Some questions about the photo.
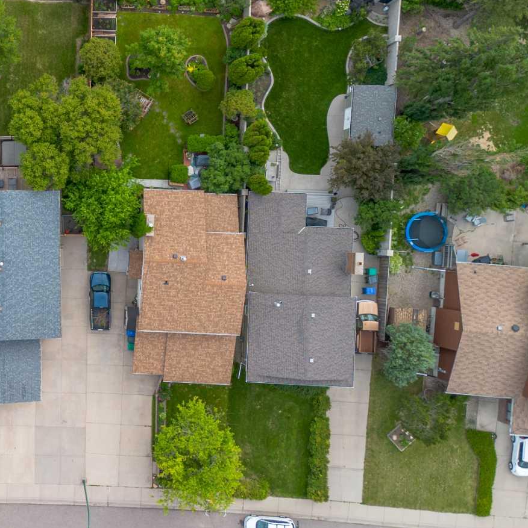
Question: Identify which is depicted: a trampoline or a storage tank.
trampoline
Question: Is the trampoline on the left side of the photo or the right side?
right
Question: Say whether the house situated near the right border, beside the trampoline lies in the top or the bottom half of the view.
bottom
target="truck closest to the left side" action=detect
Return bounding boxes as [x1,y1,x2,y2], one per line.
[90,273,114,331]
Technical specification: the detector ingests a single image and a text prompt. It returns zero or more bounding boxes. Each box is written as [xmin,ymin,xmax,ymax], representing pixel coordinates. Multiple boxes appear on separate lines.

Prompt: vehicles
[357,300,381,356]
[242,513,297,528]
[90,273,114,331]
[510,436,528,477]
